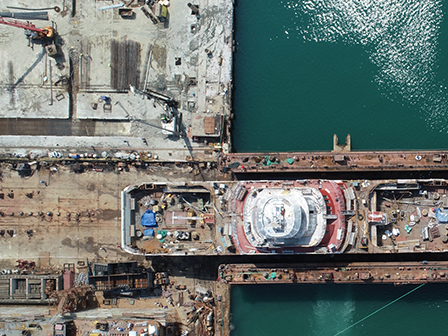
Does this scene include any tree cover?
No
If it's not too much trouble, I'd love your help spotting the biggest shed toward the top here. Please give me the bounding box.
[188,113,221,135]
